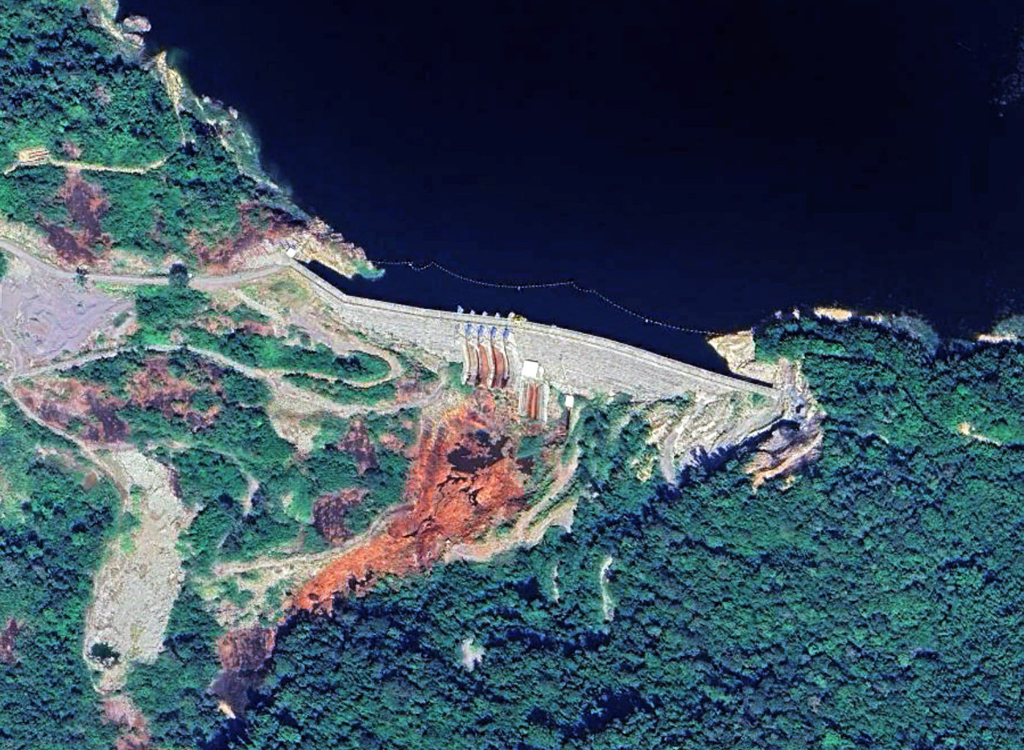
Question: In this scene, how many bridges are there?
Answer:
none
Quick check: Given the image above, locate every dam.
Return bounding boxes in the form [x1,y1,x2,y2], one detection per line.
[288,257,777,401]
